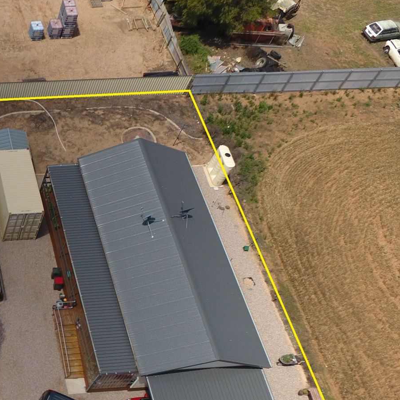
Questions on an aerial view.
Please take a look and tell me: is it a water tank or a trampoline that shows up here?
water tank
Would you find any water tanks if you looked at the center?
Yes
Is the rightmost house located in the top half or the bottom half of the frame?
bottom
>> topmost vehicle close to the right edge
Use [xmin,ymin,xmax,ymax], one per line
[361,21,400,47]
